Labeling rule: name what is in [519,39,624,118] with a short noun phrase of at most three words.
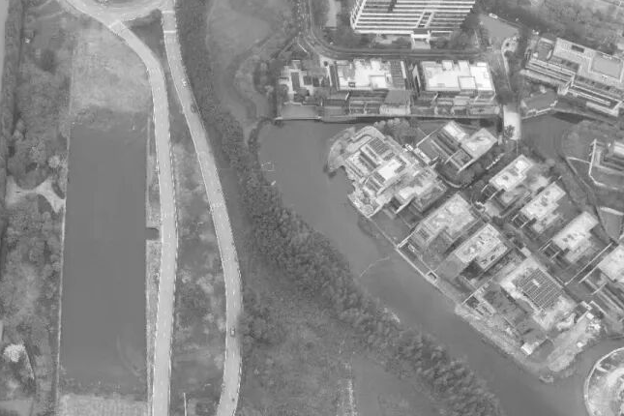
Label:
building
